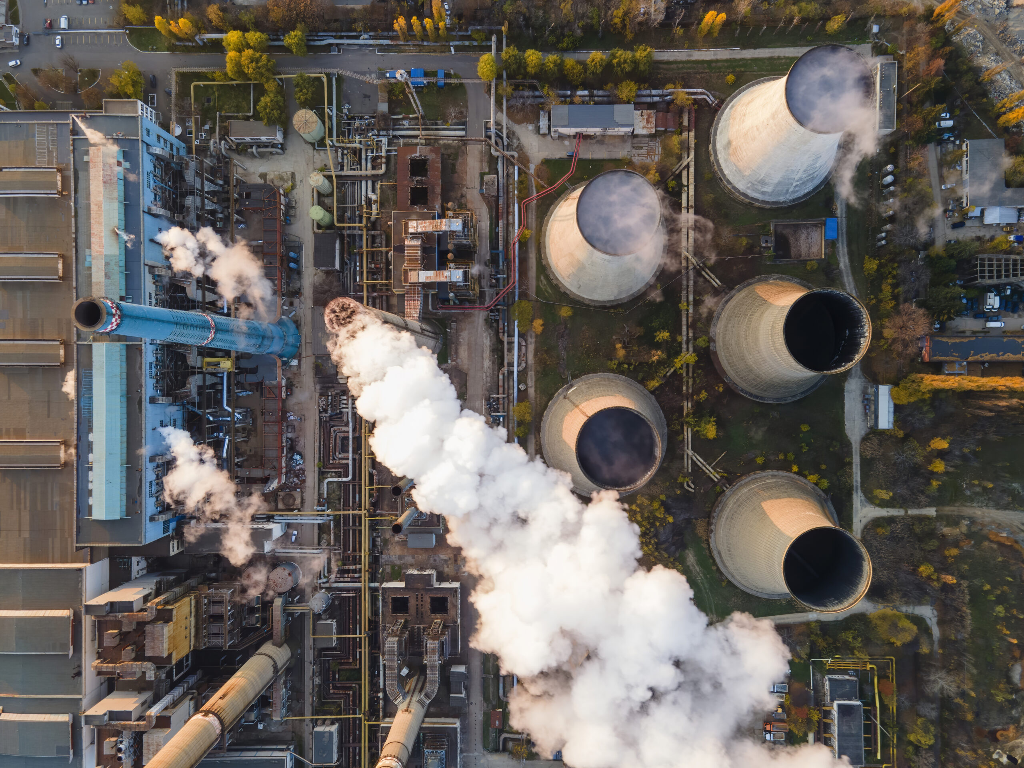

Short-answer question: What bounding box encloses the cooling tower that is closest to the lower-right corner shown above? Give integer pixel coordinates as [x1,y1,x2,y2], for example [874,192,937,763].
[710,471,872,616]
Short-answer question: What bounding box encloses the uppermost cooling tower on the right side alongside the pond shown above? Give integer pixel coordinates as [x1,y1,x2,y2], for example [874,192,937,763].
[711,45,873,205]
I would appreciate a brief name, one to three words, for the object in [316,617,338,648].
house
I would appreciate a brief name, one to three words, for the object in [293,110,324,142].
storage tank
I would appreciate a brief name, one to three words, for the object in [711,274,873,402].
cooling tower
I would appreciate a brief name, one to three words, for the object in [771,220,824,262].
pond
